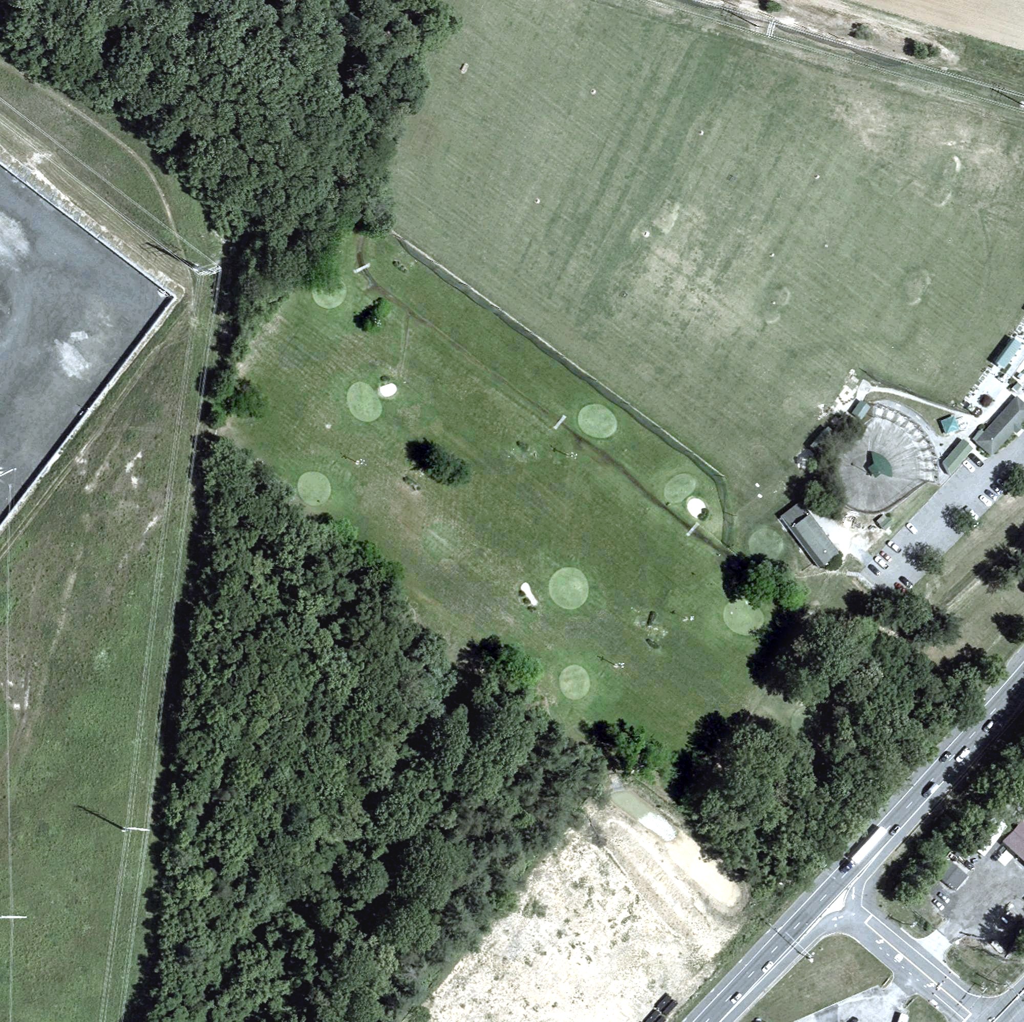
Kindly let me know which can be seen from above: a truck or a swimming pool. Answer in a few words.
truck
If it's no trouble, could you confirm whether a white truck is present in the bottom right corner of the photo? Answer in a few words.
Yes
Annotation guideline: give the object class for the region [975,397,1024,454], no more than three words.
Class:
building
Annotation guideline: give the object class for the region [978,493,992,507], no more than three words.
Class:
car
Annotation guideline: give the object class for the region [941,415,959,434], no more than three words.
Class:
gazebo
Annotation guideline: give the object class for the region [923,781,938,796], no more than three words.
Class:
vehicle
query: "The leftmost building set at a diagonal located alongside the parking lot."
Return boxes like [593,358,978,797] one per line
[781,514,839,566]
